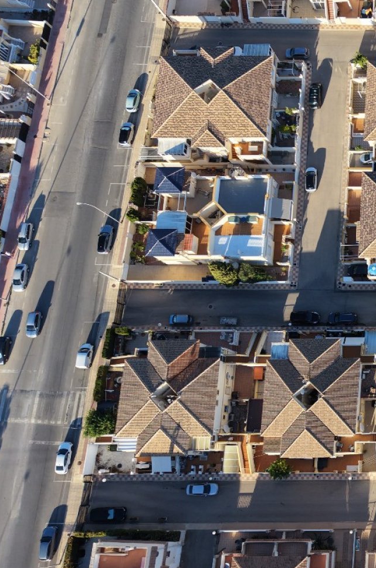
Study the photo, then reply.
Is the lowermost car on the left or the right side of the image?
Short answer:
left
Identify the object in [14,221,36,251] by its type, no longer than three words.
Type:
vehicle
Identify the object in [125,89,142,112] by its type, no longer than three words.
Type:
car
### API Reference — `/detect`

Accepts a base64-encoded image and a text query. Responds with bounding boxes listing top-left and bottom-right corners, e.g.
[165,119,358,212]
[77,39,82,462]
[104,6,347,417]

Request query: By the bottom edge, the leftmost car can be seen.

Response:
[37,526,59,561]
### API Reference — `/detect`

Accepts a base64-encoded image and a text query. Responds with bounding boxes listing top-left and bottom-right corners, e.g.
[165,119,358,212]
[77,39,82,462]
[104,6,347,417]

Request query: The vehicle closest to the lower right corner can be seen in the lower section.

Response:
[185,481,220,496]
